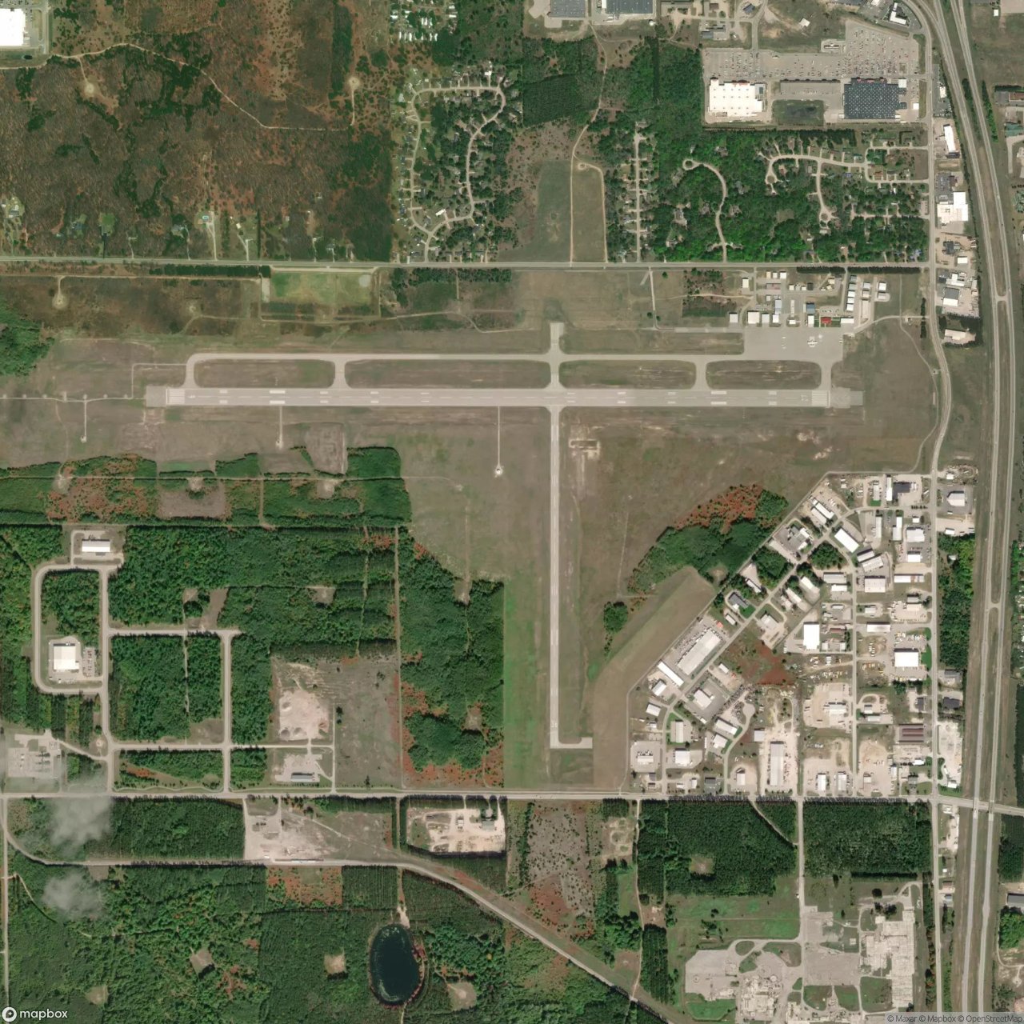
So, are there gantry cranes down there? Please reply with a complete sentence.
No, I can't see a single gantry crane in this photo.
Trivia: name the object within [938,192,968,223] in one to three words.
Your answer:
building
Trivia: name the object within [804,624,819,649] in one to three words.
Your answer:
building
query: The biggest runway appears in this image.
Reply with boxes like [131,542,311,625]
[165,388,831,407]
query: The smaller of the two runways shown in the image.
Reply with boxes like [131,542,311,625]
[545,405,592,749]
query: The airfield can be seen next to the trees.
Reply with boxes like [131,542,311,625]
[146,323,863,749]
